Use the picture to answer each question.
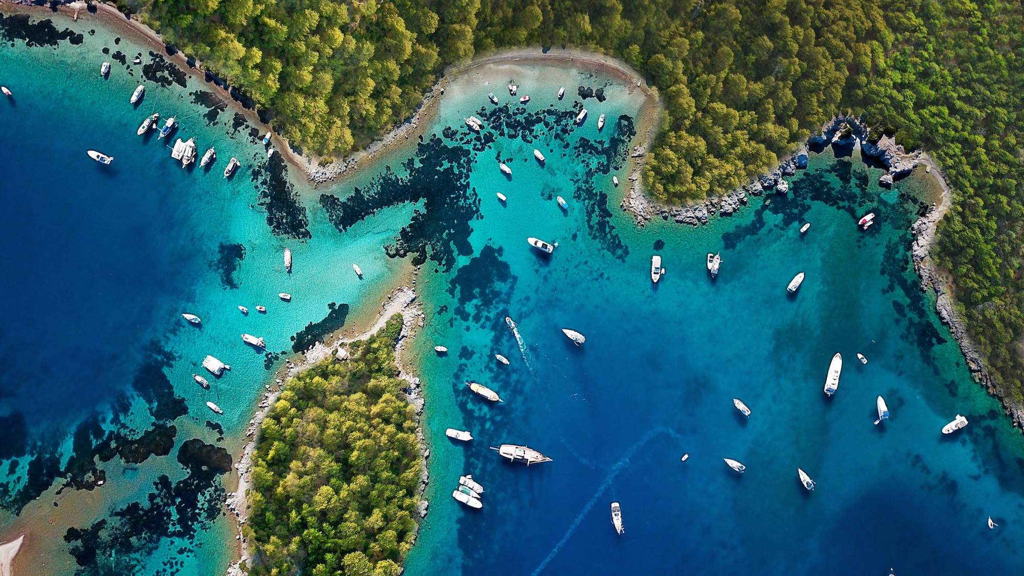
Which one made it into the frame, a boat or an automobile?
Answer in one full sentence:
Visible in the photo is a boat.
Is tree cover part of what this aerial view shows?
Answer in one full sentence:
Yes, the picture does contain tree cover.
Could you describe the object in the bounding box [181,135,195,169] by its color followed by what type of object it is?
white boat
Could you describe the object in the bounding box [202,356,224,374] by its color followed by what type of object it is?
white boat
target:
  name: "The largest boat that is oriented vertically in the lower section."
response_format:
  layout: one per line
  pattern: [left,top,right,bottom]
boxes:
[825,354,843,398]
